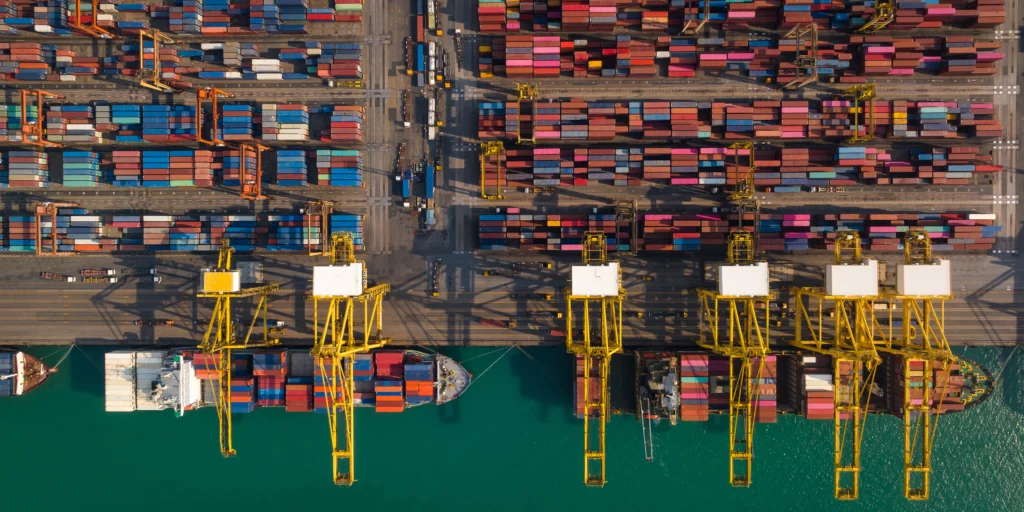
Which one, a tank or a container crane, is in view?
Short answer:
container crane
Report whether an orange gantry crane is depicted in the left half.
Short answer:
Yes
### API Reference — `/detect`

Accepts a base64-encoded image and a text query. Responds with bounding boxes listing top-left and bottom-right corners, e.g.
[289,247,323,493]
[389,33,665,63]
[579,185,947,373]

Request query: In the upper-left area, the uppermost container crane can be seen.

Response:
[77,0,122,40]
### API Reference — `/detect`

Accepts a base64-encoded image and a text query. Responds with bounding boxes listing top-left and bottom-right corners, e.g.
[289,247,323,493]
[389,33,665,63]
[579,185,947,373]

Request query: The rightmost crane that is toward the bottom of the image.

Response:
[851,233,958,501]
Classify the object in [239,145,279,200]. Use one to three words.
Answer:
container crane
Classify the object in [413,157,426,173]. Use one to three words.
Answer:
vehicle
